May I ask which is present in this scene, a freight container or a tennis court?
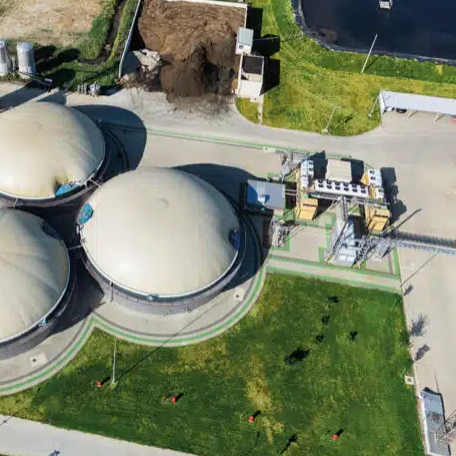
freight container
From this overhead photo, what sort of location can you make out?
industrial area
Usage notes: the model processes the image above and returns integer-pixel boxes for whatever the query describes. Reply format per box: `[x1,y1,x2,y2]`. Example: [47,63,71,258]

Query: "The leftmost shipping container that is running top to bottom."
[295,155,321,223]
